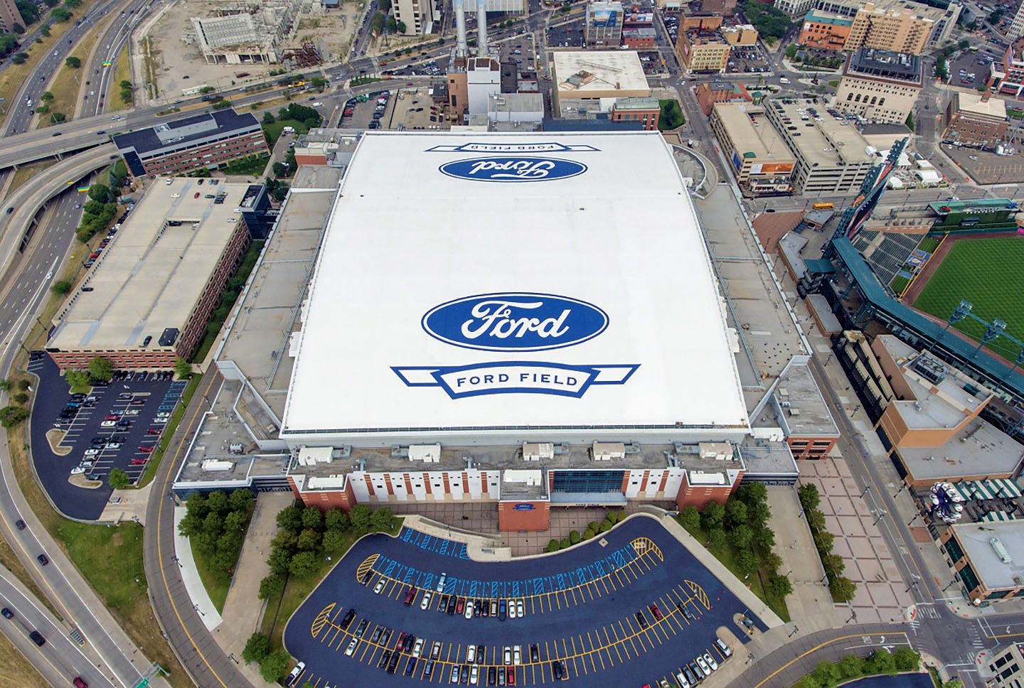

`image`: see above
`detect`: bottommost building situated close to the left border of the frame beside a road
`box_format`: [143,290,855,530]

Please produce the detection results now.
[43,176,254,373]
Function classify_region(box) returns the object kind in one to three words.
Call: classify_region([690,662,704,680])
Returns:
car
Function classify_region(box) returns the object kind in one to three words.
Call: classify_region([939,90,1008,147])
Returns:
building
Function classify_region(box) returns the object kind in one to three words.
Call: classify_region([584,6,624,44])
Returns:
building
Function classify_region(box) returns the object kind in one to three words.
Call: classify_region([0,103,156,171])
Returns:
overpass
